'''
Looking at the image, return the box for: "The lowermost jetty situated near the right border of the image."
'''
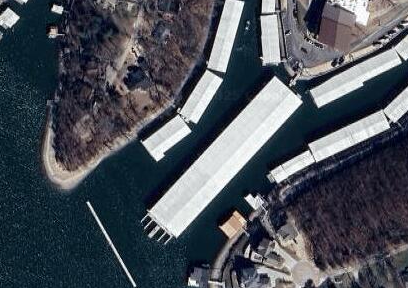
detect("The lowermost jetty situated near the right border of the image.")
[309,110,389,161]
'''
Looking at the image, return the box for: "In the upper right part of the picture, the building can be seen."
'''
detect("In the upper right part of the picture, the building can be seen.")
[317,0,370,49]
